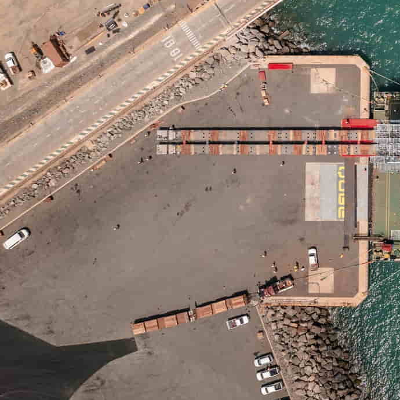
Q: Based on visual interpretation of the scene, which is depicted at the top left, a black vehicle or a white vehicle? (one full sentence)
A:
You can see a white vehicle at the top left.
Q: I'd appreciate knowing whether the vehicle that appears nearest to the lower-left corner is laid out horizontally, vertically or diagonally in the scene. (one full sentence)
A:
I'd say the vehicle that appears nearest to the lower-left corner is aligned diagonally in the picture.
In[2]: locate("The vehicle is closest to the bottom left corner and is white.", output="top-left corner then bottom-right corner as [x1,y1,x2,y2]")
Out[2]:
[1,227,27,249]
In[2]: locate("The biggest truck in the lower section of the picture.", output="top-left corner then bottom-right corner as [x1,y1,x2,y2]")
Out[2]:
[254,277,292,300]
